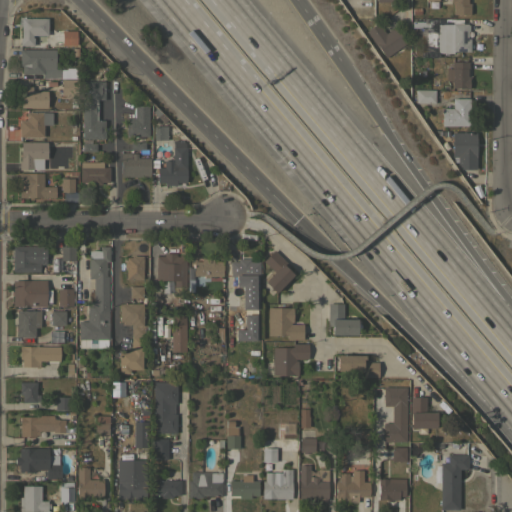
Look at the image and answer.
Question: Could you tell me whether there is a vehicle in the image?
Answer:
Yes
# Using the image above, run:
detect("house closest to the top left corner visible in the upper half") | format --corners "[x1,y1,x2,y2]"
[22,18,50,46]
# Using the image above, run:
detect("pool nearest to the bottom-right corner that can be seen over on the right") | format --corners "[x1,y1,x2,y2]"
[420,454,434,479]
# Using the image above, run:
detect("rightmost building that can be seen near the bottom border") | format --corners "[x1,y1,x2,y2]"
[437,454,472,512]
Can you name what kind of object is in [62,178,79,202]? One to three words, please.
building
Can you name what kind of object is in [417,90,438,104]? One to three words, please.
building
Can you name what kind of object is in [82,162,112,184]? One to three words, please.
house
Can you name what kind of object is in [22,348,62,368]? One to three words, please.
house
